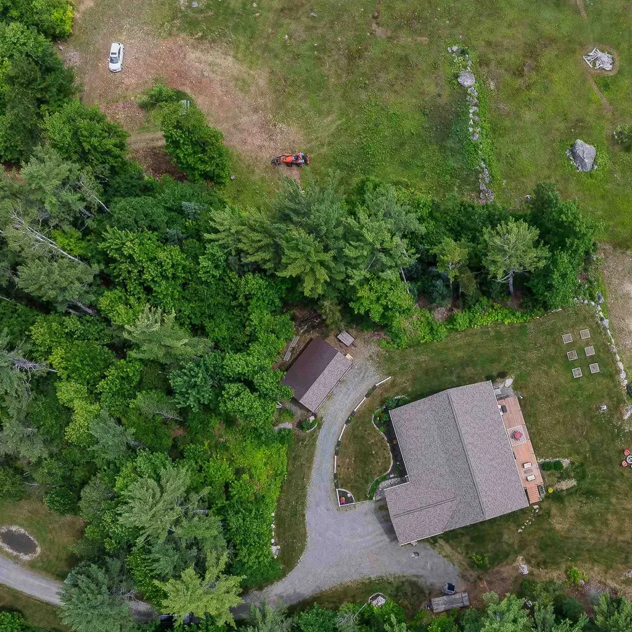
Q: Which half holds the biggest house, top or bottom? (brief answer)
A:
bottom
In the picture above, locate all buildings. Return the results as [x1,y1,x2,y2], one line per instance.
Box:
[281,337,355,414]
[382,381,529,547]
